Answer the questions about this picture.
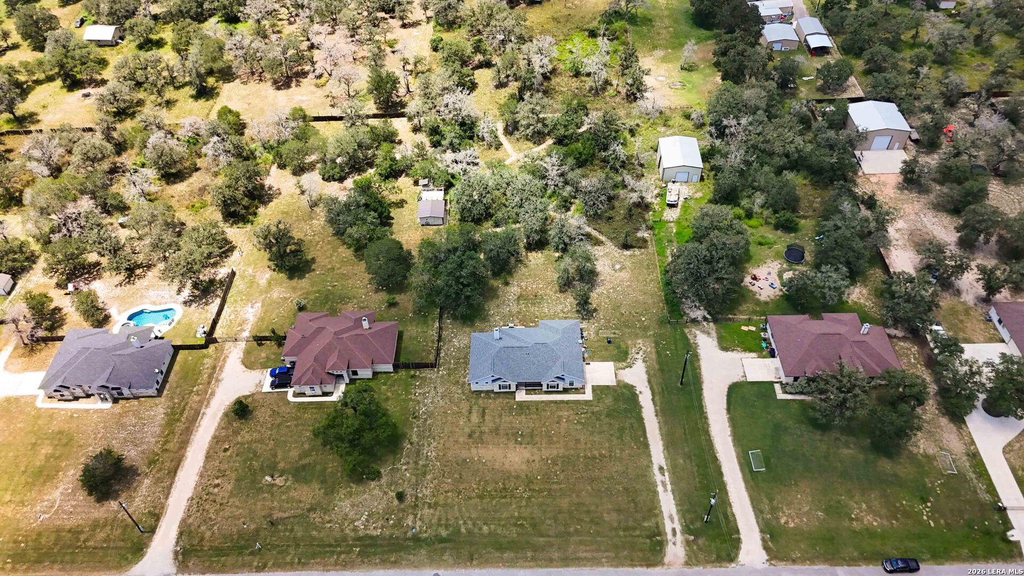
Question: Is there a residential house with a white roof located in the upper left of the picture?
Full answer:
Yes, a residential house with a white roof can be seen in the upper left of the picture.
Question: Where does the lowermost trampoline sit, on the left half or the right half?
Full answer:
You can find the lowermost trampoline on the right side of the picture.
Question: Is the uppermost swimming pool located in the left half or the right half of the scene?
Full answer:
It is on the left.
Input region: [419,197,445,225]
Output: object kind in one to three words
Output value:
shed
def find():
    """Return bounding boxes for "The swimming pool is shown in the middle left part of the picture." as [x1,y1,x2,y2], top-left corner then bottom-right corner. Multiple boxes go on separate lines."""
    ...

[112,303,183,340]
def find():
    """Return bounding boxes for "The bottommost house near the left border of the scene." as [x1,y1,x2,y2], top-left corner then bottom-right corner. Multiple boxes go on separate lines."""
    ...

[39,326,174,402]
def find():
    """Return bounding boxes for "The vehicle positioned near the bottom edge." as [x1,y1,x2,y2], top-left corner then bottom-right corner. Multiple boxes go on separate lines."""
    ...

[878,558,923,575]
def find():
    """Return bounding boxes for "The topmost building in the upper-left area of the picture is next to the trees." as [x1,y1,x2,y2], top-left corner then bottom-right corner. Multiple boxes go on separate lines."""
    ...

[80,23,126,47]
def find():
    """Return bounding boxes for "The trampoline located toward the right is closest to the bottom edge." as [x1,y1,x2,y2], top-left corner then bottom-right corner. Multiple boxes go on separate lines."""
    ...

[783,244,805,265]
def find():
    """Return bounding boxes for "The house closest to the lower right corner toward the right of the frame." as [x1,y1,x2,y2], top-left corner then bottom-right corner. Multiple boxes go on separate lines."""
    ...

[990,301,1024,362]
